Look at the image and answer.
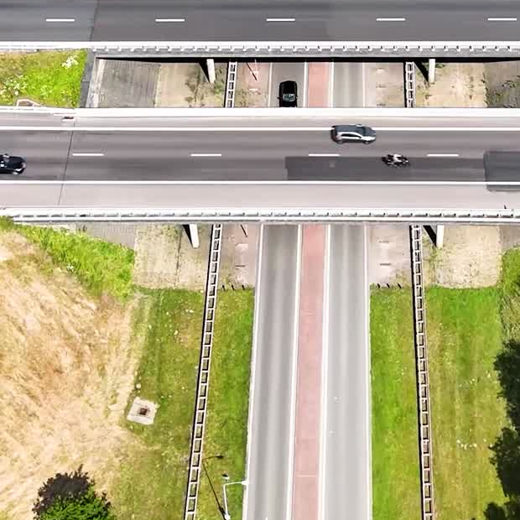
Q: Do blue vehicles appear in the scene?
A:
No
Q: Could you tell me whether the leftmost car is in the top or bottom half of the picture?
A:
top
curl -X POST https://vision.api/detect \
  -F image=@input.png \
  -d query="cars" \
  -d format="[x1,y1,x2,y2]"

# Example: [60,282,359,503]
[0,151,26,173]
[331,122,375,144]
[278,80,298,106]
